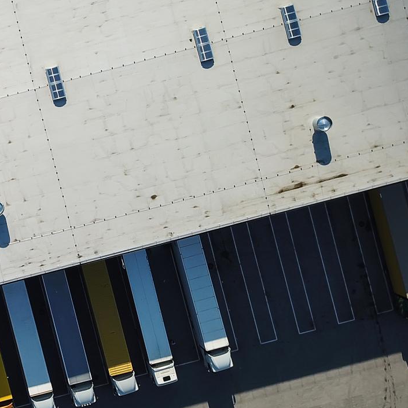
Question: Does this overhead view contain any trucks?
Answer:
Yes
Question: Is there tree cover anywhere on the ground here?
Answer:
No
